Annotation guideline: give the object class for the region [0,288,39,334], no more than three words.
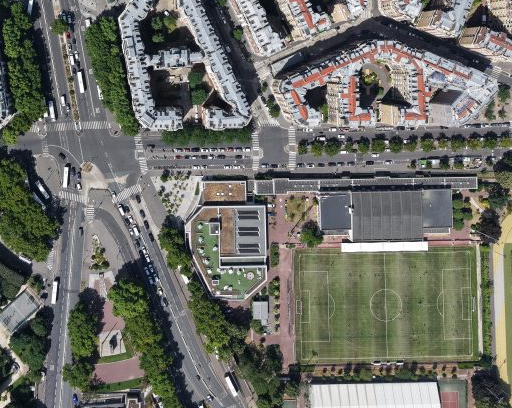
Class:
sports court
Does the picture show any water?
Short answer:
No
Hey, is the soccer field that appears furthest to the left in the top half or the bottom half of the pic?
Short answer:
bottom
